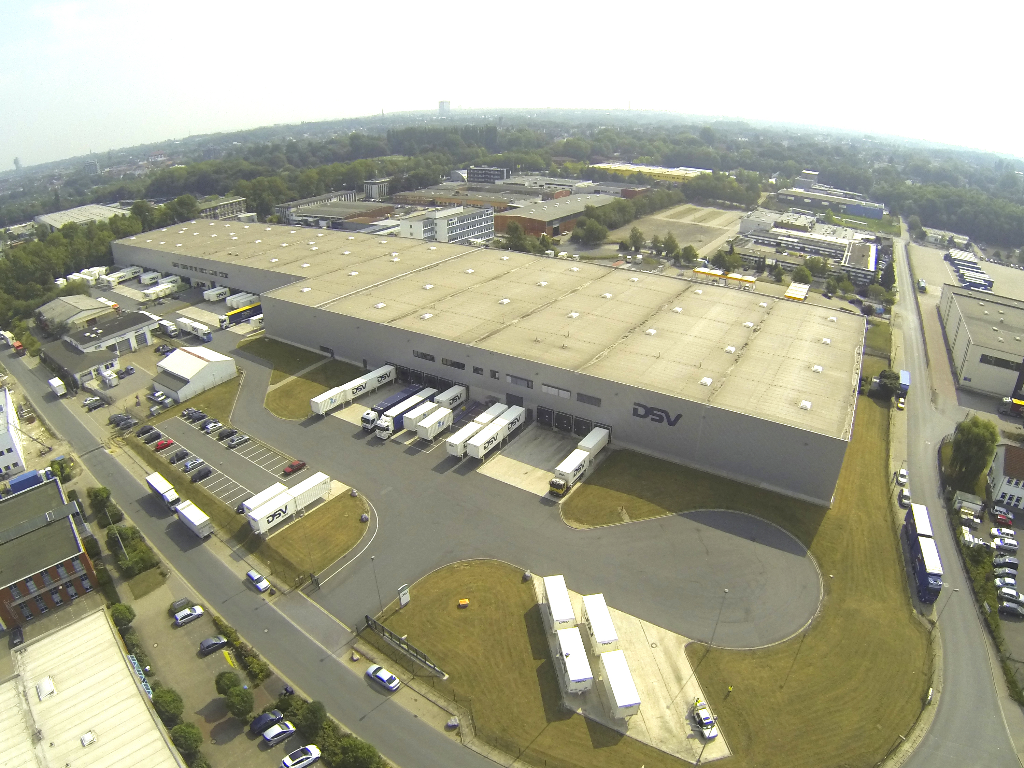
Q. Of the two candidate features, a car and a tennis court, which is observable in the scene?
car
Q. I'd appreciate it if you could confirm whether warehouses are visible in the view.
Yes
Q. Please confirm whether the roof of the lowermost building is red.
No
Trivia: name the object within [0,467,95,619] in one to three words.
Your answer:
building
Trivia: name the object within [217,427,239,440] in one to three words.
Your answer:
vehicle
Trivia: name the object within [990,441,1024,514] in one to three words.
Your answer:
house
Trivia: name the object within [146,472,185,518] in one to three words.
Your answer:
truck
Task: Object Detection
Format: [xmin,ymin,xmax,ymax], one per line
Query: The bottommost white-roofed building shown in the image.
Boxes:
[0,606,189,768]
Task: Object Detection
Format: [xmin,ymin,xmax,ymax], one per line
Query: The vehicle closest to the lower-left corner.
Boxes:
[3,619,25,646]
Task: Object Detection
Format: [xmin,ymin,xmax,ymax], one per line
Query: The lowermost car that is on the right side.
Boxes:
[691,691,723,740]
